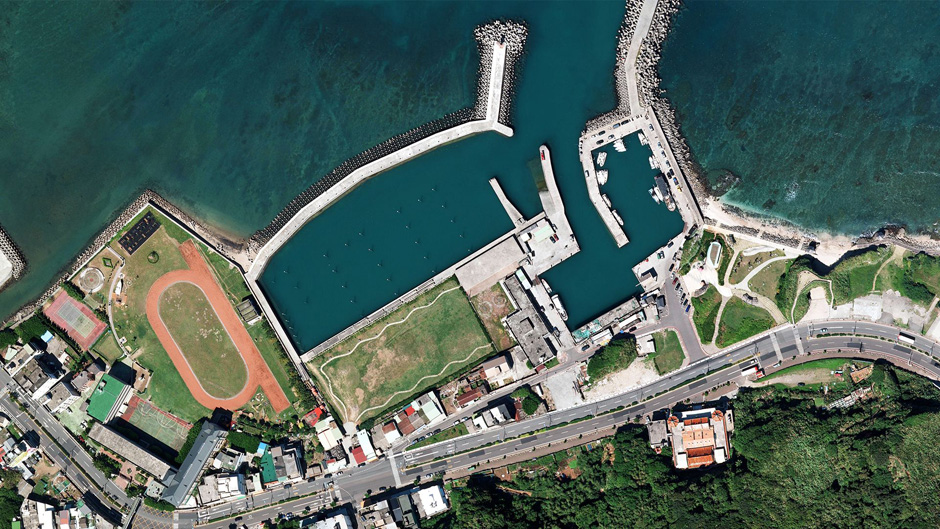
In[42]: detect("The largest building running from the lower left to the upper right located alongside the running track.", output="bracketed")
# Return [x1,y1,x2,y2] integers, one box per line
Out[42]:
[162,420,234,506]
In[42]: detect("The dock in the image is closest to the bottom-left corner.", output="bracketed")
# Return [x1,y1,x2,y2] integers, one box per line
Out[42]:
[0,241,22,289]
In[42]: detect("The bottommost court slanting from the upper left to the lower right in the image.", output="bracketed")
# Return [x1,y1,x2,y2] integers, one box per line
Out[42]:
[121,394,193,450]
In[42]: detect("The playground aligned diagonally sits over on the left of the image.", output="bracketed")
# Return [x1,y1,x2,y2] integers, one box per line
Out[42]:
[118,211,162,255]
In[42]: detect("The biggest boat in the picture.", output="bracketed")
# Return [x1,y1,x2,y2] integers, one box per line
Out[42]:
[655,174,673,212]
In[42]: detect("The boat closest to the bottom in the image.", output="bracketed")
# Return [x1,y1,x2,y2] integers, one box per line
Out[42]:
[550,296,568,321]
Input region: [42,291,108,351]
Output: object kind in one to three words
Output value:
tennis court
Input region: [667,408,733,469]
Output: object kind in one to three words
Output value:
house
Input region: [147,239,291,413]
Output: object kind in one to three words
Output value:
running track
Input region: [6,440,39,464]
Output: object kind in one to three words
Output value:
building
